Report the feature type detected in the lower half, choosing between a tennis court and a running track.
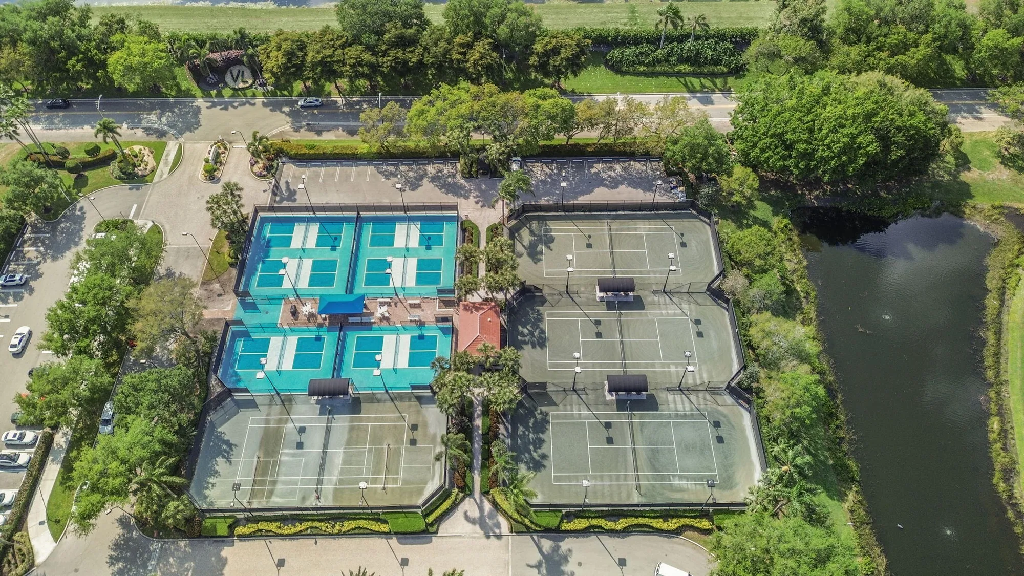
tennis court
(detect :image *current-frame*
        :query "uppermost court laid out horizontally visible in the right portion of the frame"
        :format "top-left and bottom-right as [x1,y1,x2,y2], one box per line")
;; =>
[512,212,722,291]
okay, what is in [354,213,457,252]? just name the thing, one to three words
sports court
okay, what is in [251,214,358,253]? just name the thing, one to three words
sports court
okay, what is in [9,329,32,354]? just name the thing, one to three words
car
